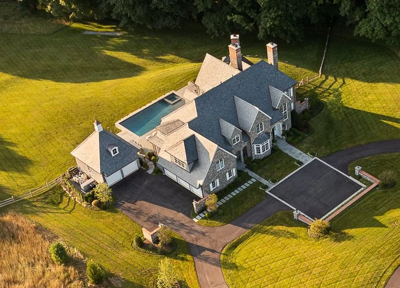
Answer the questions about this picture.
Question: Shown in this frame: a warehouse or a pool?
pool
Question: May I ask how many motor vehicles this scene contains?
0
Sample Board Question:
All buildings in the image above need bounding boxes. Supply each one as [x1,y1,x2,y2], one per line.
[68,115,141,186]
[143,35,296,197]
